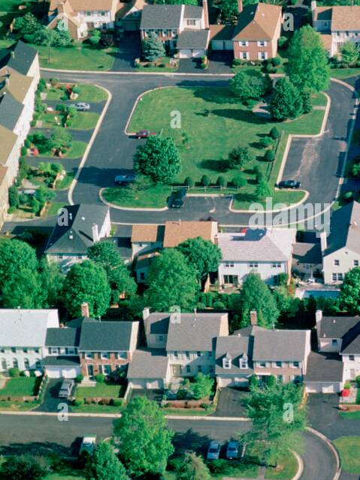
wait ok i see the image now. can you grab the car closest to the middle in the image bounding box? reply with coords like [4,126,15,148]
[170,190,185,206]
